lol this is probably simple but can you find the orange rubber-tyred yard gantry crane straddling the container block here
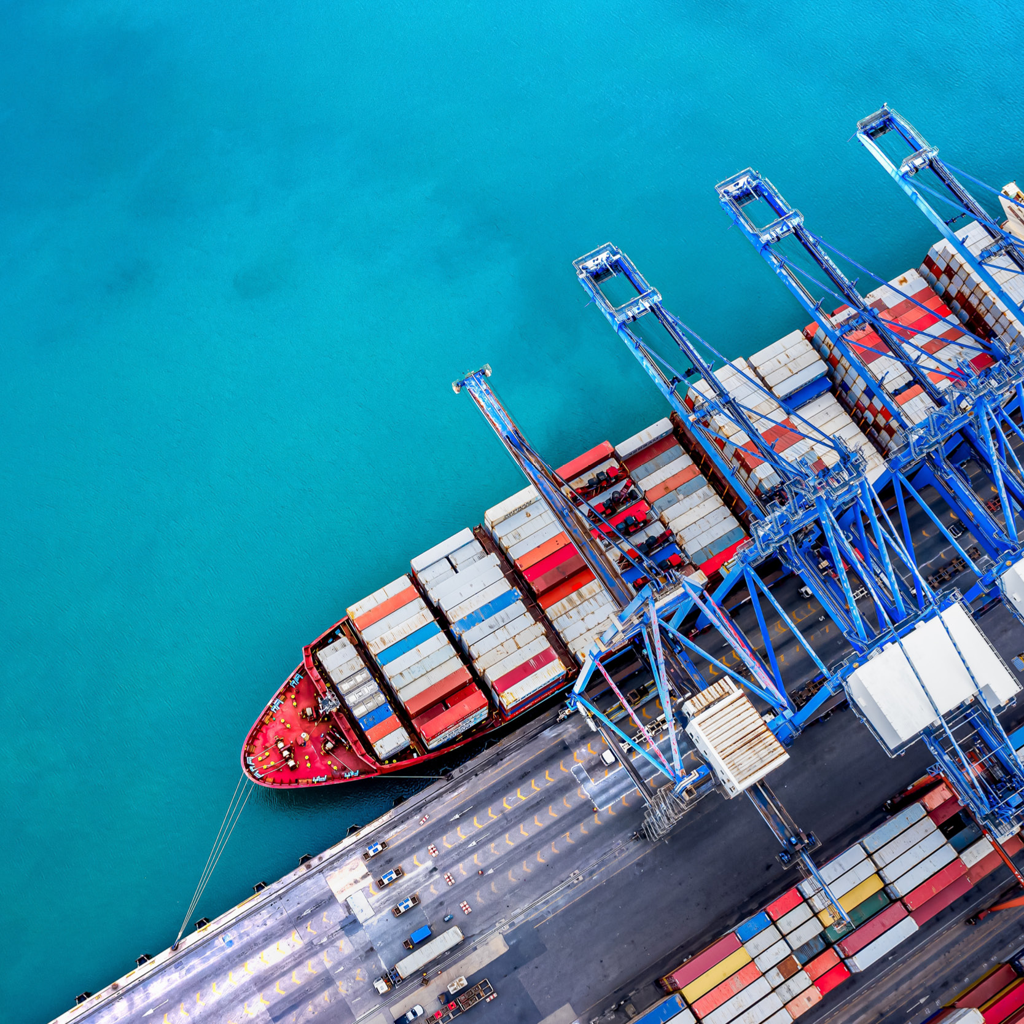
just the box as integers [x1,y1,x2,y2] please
[880,752,1024,933]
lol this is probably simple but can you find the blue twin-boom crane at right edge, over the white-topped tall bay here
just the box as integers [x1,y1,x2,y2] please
[850,99,1024,340]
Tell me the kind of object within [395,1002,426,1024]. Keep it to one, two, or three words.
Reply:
truck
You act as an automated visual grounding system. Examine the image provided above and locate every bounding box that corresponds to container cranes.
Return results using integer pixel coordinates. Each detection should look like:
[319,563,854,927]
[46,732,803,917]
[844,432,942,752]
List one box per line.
[880,752,1024,933]
[712,162,1024,636]
[436,361,884,983]
[850,99,1024,340]
[569,236,1024,862]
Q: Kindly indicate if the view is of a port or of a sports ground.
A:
port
